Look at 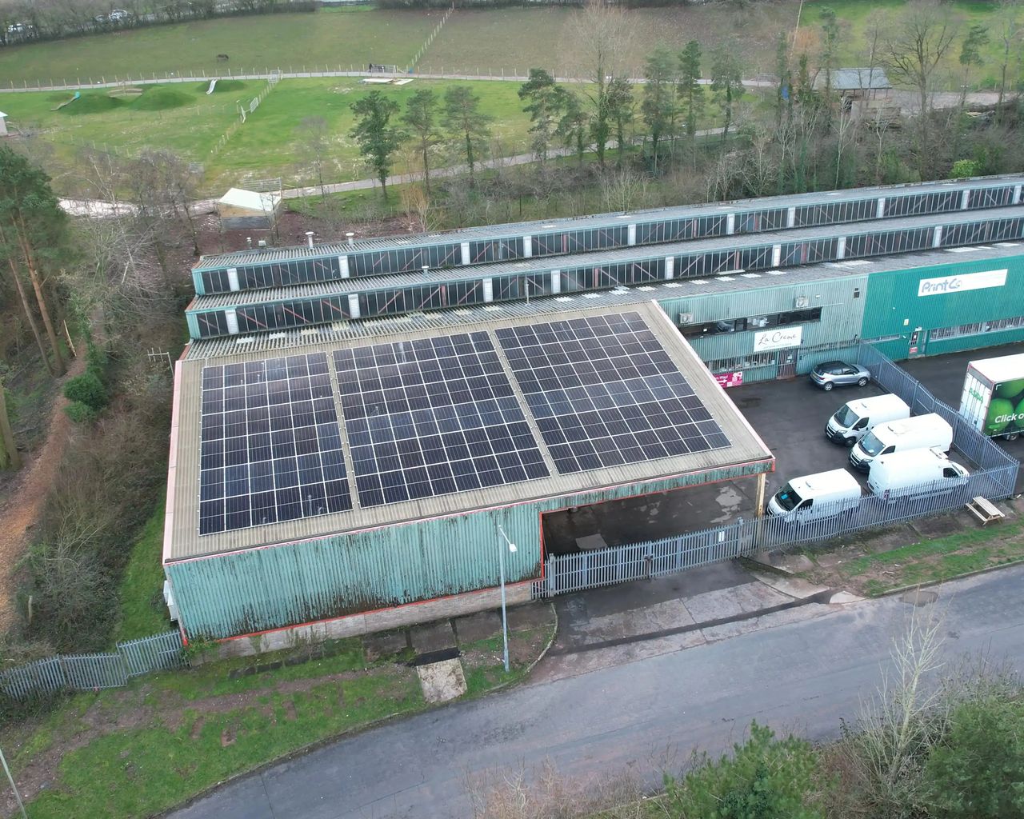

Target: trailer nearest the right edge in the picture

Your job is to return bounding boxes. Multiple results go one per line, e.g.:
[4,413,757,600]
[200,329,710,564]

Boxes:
[953,350,1024,431]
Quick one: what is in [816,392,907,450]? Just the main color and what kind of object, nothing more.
white van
